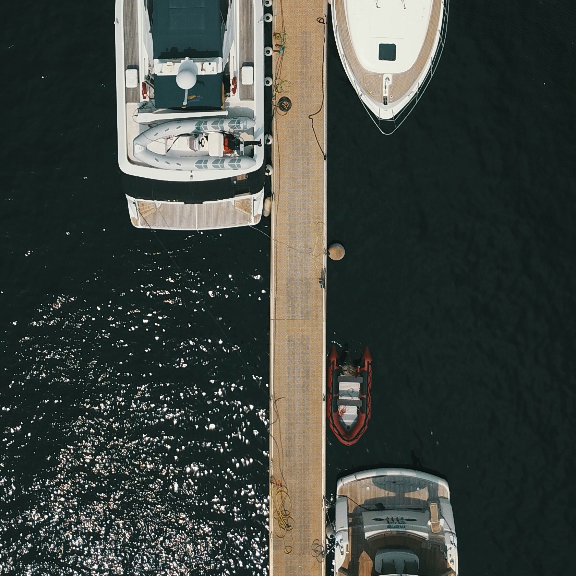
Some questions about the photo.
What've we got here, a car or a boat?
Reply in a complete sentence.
Of the two, only a boat appears.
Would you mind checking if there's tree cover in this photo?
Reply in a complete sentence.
No, there's no tree cover in this view.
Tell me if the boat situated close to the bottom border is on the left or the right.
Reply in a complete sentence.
The boat situated close to the bottom border sits on the right side.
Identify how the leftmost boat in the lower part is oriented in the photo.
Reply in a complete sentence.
From this overhead view, the leftmost boat in the lower part appears to run from top to bottom.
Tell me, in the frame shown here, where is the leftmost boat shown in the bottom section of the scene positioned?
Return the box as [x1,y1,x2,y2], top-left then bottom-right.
[327,345,374,446]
